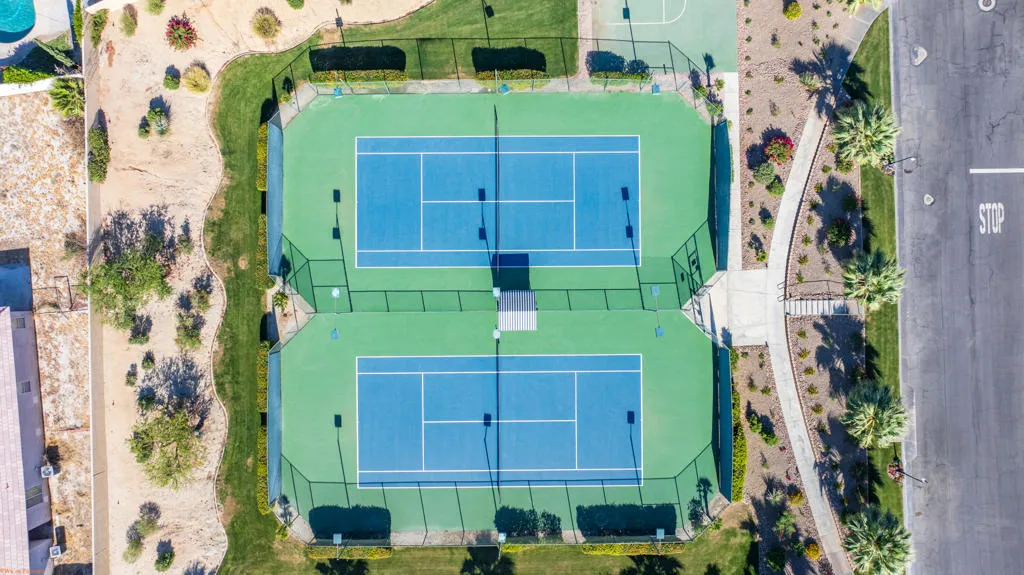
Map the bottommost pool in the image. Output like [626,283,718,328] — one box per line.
[0,261,33,311]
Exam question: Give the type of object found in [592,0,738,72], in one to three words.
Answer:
basketball court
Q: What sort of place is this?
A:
sports ground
